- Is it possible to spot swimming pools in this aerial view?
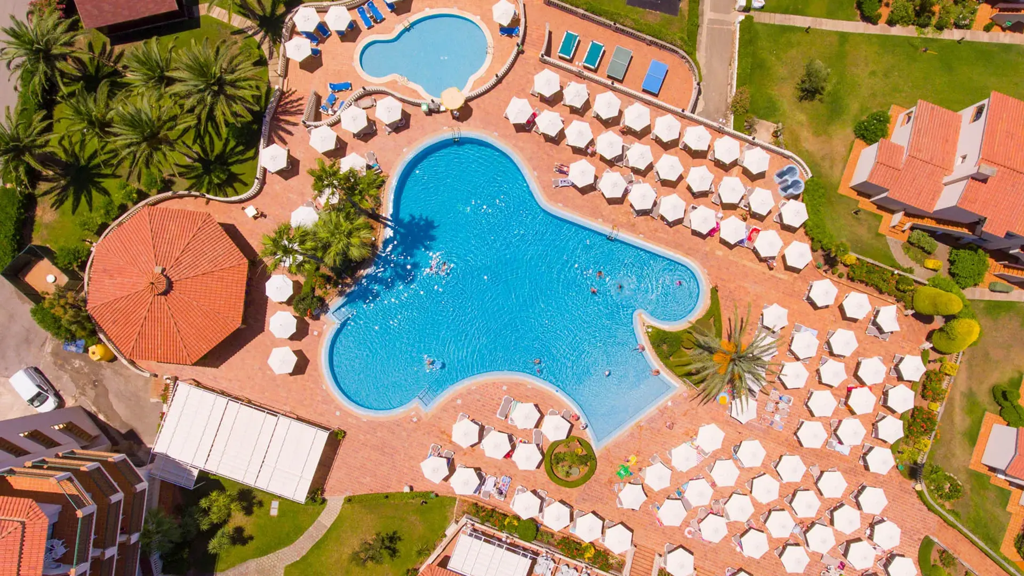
Yes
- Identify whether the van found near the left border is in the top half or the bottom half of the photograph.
bottom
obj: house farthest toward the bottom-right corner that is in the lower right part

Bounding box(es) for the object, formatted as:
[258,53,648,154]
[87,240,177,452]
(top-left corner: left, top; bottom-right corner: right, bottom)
[982,425,1024,503]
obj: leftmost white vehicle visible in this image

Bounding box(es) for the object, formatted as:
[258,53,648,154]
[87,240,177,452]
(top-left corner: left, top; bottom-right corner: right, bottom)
[8,368,58,413]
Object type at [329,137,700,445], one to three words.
swimming pool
